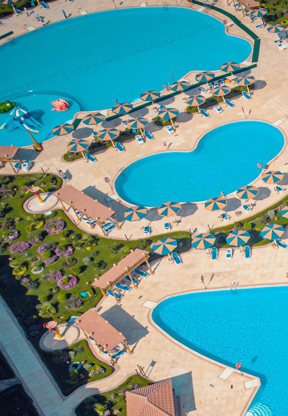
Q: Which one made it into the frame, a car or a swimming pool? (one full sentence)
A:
I can see a swimming pool in this picture.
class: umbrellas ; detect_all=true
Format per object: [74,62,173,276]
[250,9,269,25]
[191,233,219,257]
[139,90,163,110]
[211,85,232,105]
[124,207,151,230]
[186,95,208,115]
[234,186,261,209]
[261,172,286,193]
[126,118,150,137]
[67,140,92,161]
[225,231,252,254]
[220,63,242,81]
[151,239,179,263]
[52,123,77,144]
[266,25,286,39]
[83,113,107,133]
[170,82,192,100]
[157,107,181,128]
[204,198,230,220]
[236,76,257,94]
[195,71,217,91]
[97,128,122,148]
[260,225,287,249]
[112,103,134,122]
[1,0,20,11]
